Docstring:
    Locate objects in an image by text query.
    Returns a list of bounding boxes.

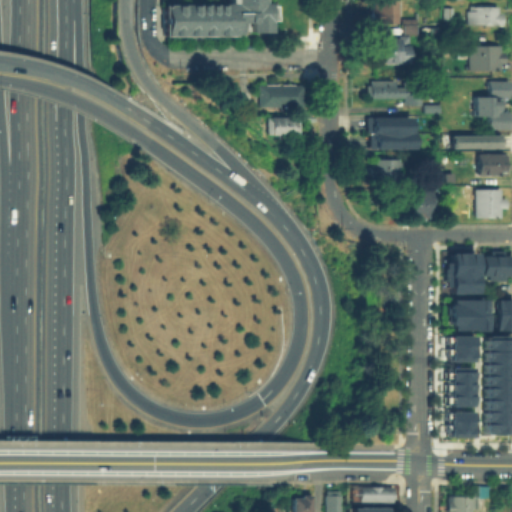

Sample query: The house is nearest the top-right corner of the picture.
[468,7,507,28]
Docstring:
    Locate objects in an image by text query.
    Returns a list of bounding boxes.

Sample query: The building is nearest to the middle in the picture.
[268,118,302,136]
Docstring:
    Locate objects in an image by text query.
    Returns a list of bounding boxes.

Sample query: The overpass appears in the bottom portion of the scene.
[0,441,322,484]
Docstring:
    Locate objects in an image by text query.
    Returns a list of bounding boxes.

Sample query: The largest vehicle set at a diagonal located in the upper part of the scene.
[229,171,248,188]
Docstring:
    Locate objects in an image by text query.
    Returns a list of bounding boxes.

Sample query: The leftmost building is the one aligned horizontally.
[170,0,282,38]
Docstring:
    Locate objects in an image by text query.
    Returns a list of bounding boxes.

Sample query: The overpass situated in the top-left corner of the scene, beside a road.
[0,50,118,125]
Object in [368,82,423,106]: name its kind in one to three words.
house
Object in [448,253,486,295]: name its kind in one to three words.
house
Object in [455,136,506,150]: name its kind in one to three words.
building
